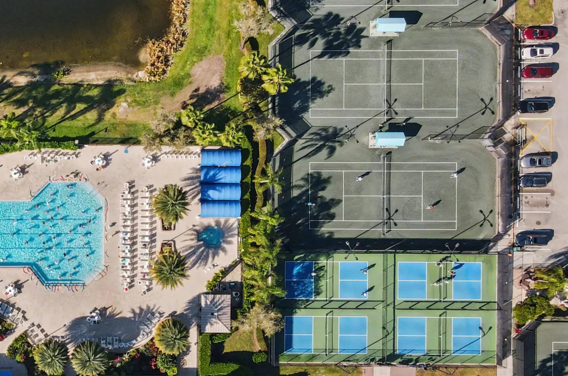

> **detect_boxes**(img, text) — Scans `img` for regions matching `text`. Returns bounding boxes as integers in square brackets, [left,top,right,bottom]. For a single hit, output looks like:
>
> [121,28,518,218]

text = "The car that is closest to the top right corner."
[523,25,554,40]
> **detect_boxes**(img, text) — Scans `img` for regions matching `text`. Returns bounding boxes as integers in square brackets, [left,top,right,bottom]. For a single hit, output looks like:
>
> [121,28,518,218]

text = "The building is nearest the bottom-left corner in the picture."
[199,294,230,333]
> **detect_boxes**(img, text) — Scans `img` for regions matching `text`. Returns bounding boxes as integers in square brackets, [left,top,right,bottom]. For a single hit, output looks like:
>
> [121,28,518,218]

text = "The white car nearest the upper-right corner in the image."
[520,45,552,59]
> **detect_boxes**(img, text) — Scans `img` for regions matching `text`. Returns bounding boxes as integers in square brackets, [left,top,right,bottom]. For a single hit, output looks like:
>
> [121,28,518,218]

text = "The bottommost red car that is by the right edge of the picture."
[521,64,553,78]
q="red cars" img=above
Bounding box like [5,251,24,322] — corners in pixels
[523,25,554,40]
[521,64,553,78]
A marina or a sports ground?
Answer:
sports ground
